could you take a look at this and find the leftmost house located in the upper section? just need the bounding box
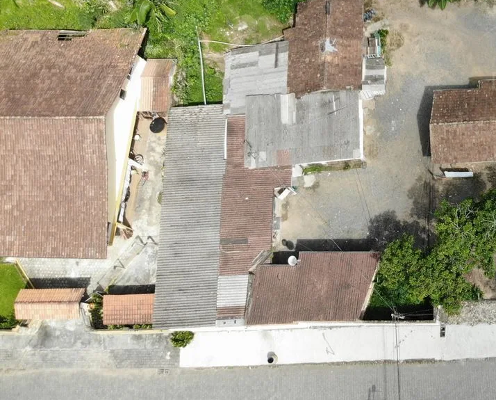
[0,28,148,259]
